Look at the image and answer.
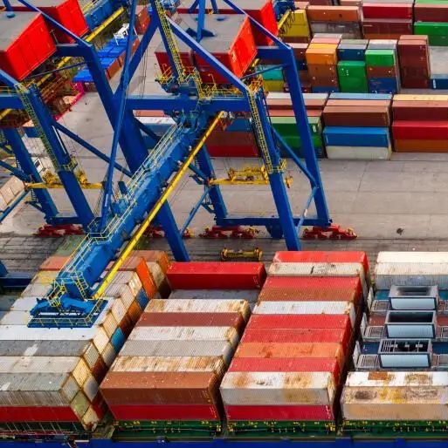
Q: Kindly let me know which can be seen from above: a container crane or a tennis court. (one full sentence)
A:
Of the two, only a container crane appears.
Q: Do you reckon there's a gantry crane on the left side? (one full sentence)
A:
Yes, a gantry crane shows up on the left side.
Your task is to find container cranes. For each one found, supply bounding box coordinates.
[0,0,194,256]
[14,0,353,340]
